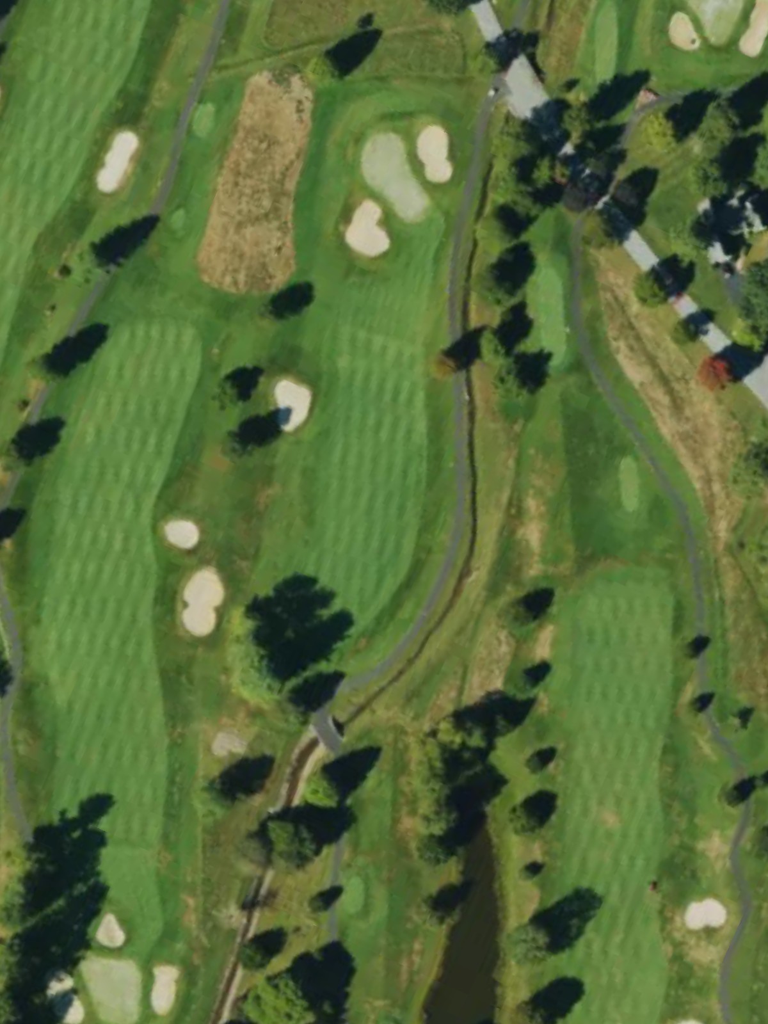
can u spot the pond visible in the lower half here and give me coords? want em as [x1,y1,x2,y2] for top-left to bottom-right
[422,813,501,1024]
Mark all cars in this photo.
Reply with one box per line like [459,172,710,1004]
[723,271,733,282]
[672,289,685,303]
